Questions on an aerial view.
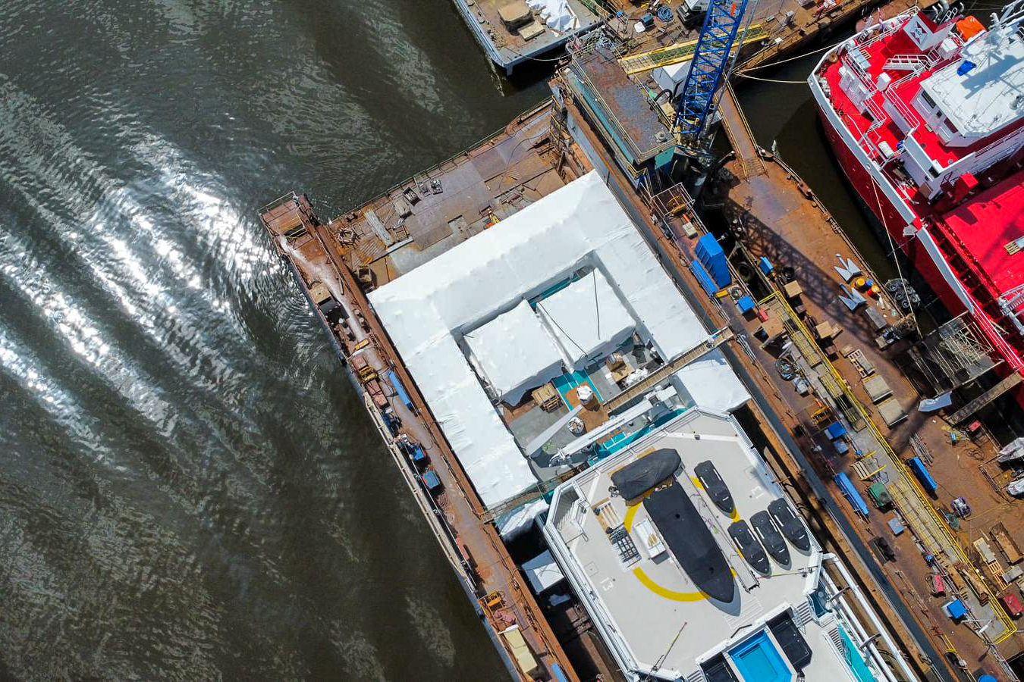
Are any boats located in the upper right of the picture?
Yes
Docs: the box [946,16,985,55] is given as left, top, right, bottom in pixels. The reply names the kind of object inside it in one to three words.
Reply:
boat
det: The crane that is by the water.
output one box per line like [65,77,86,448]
[645,0,754,184]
